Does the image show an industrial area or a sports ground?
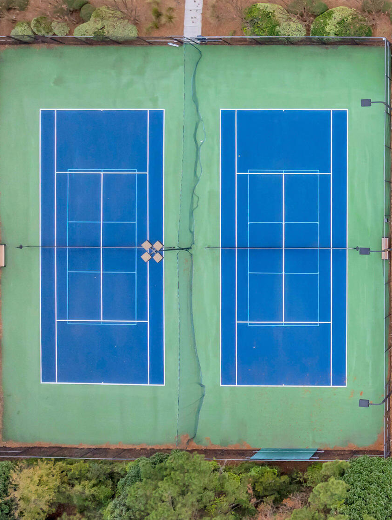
sports ground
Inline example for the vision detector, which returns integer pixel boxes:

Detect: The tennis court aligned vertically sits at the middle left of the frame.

[0,44,193,446]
